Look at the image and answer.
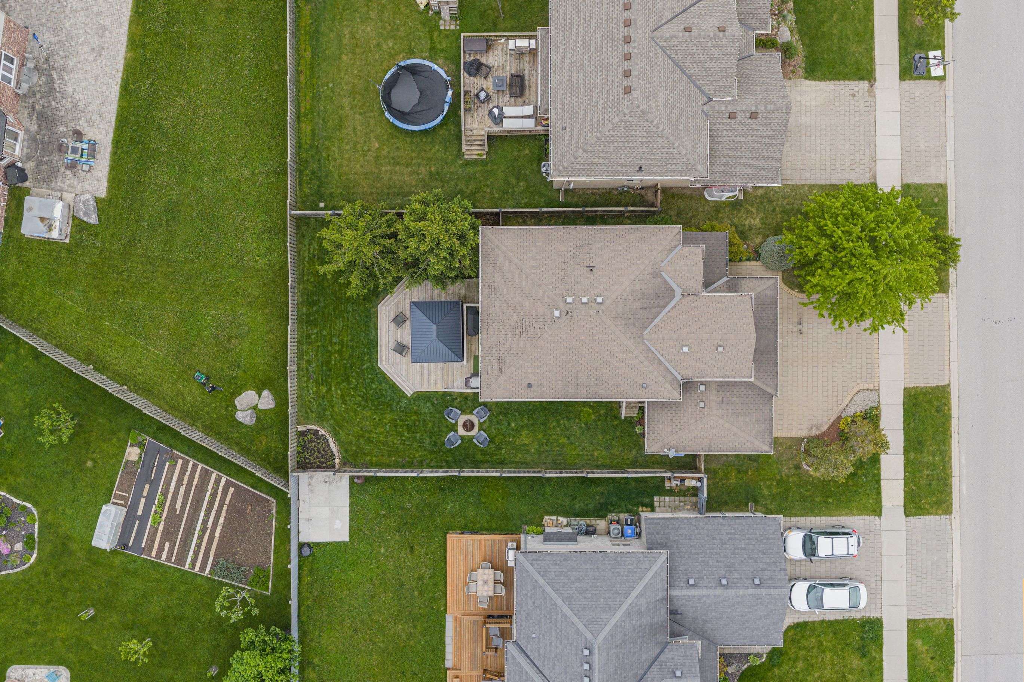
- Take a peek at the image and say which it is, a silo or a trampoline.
trampoline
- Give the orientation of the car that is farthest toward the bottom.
horizontally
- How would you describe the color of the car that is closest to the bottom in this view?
white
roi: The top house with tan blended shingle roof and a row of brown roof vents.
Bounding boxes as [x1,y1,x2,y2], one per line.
[538,0,792,191]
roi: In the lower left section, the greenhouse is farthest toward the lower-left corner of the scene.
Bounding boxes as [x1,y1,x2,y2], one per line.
[85,504,130,555]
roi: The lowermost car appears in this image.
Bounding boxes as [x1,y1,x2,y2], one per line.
[788,576,866,616]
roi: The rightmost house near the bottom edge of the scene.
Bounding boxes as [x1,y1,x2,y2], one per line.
[505,514,791,682]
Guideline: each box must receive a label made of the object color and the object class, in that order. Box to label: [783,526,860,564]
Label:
white car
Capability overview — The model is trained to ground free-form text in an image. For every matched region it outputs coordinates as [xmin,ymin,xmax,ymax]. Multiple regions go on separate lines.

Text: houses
[538,0,792,191]
[479,225,778,454]
[505,514,791,682]
[0,2,29,232]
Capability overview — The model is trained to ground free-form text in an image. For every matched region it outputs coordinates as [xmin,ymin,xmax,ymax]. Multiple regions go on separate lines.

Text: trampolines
[370,58,452,130]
